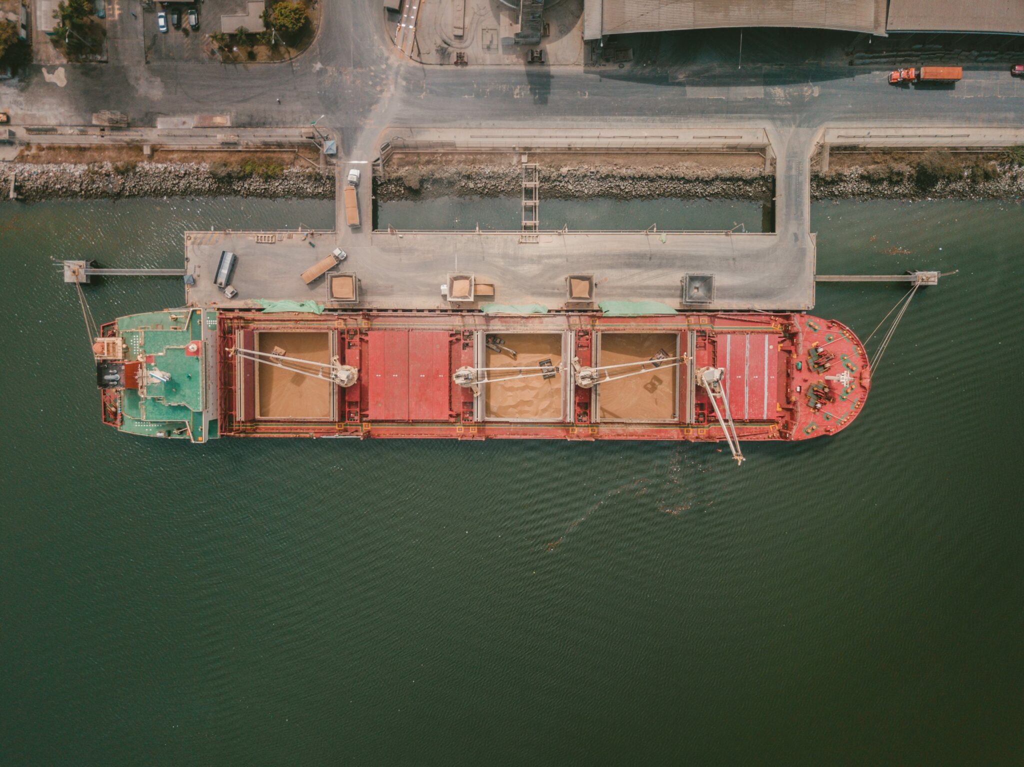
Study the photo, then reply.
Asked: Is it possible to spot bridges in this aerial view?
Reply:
Yes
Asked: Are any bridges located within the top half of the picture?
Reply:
Yes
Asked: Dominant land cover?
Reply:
water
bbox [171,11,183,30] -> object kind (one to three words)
vehicle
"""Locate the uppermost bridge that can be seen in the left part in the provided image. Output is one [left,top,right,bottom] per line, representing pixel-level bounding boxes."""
[336,161,373,234]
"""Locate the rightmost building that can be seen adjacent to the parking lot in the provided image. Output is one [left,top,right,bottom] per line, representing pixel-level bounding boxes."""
[221,0,270,39]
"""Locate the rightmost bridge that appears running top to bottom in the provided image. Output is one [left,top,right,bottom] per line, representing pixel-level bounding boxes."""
[773,158,811,234]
